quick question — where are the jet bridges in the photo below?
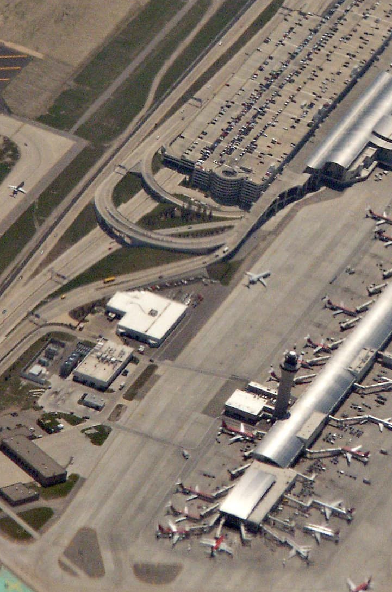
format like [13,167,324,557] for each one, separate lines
[227,463,251,476]
[336,317,355,330]
[240,527,255,546]
[240,449,251,458]
[352,302,367,313]
[325,341,337,349]
[214,520,223,540]
[185,518,218,534]
[289,468,320,484]
[329,413,373,424]
[269,515,299,530]
[304,356,324,366]
[197,503,219,518]
[304,445,346,456]
[261,524,288,545]
[355,379,392,393]
[208,483,235,499]
[284,494,317,509]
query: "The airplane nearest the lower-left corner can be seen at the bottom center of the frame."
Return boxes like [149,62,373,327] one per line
[154,521,190,540]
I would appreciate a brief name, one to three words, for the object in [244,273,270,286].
airplane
